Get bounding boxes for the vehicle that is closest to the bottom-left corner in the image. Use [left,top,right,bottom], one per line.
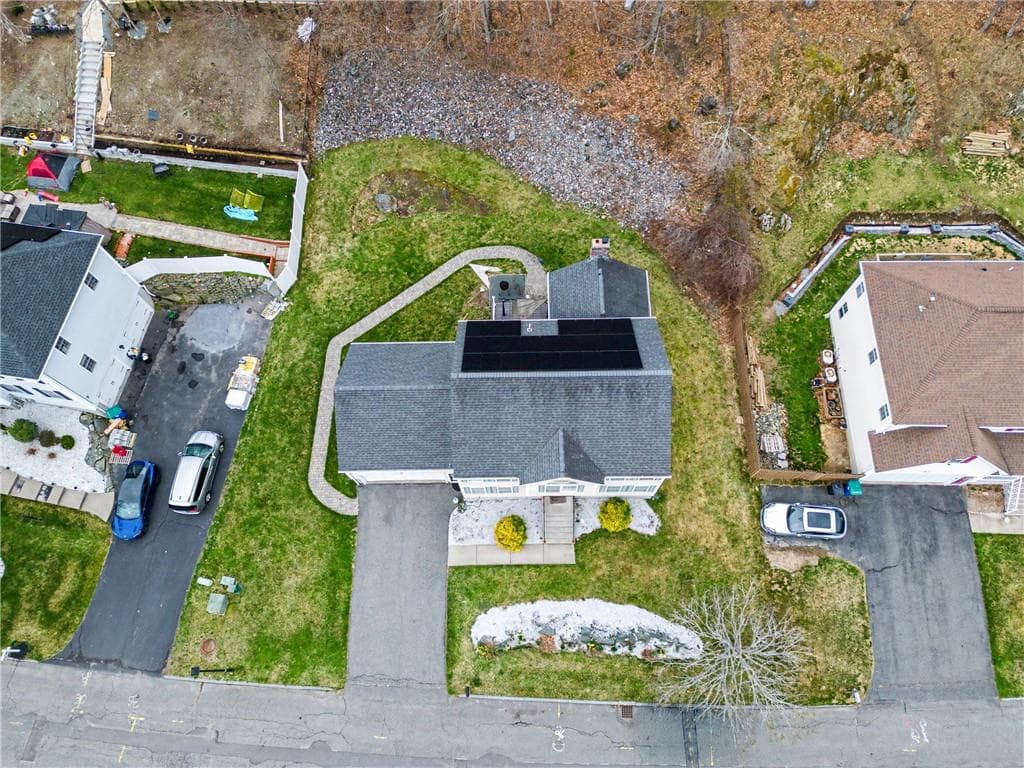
[111,459,164,541]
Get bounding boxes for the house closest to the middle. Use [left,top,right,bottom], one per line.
[331,234,677,548]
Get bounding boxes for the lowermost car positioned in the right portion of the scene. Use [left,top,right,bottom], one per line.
[760,499,851,541]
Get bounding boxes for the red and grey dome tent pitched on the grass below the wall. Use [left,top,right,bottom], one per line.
[23,153,83,191]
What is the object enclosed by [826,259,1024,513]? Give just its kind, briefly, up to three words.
house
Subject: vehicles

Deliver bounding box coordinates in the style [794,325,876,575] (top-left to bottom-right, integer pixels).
[111,459,164,541]
[760,499,851,541]
[171,431,228,515]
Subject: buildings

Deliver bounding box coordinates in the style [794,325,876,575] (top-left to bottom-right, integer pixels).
[331,234,677,548]
[826,259,1024,513]
[0,220,154,414]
